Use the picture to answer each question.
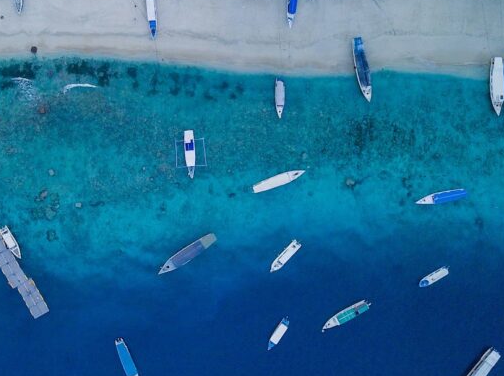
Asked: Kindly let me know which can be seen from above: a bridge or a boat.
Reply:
boat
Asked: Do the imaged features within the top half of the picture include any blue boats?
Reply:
Yes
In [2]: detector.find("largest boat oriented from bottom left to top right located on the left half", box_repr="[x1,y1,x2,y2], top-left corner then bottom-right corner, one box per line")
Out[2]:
[158,234,218,275]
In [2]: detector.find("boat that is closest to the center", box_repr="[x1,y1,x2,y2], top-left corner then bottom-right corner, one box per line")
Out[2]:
[249,171,306,193]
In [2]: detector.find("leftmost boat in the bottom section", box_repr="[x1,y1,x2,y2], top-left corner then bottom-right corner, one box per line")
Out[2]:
[0,224,20,260]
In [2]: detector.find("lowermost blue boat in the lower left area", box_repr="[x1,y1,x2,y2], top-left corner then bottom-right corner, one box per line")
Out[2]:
[115,337,136,376]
